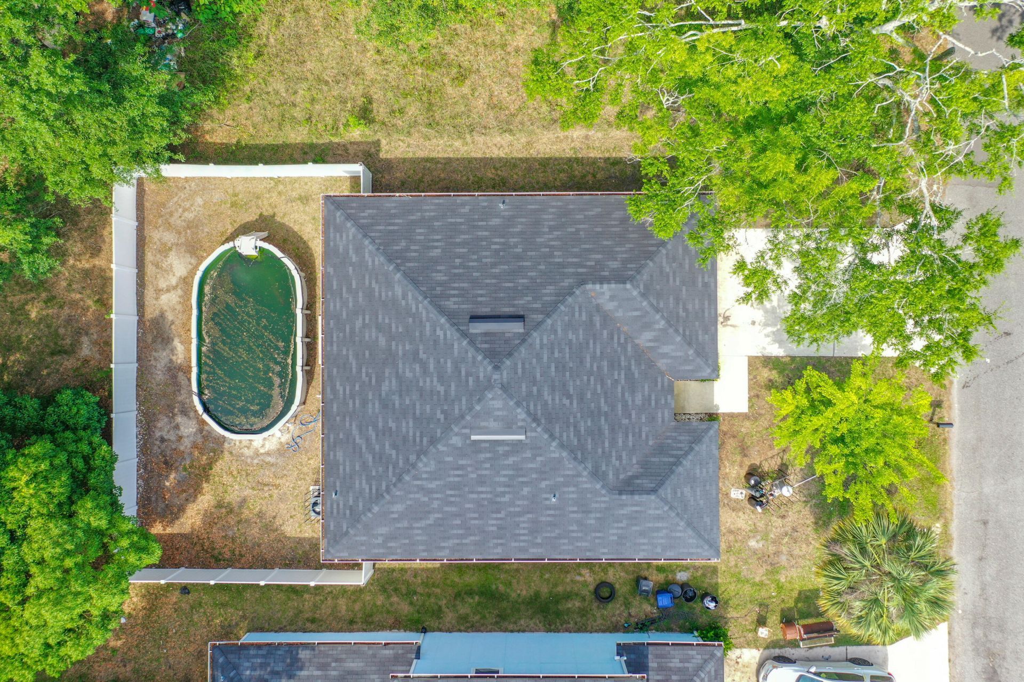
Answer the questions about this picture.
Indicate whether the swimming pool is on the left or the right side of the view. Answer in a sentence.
The swimming pool is on the left side of the image.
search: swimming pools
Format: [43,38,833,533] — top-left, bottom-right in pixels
[188,242,320,438]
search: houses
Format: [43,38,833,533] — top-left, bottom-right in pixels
[319,191,722,563]
[207,629,726,682]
